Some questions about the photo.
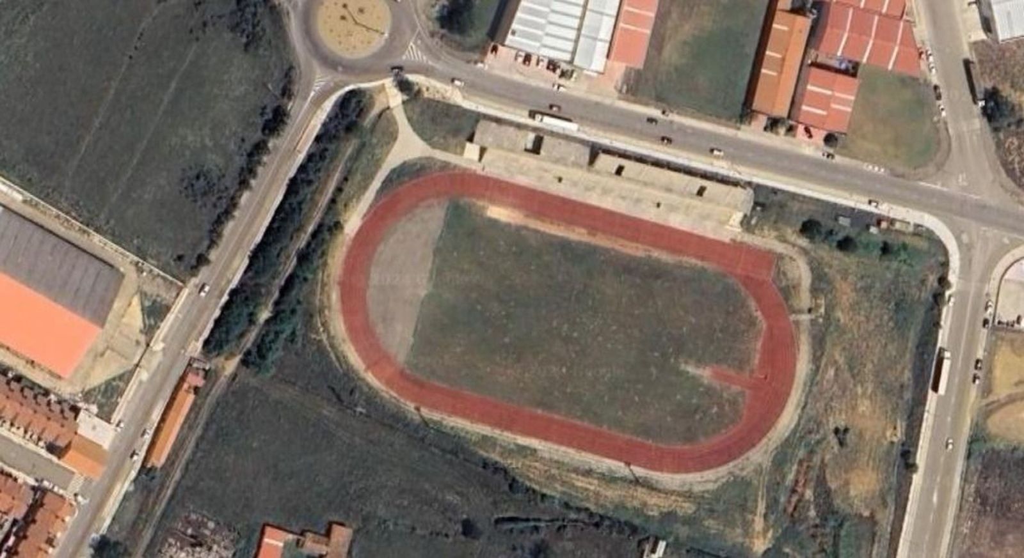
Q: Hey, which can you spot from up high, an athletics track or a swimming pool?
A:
athletics track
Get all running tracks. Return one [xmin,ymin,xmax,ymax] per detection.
[339,172,797,475]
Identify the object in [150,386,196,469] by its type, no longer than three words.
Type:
shed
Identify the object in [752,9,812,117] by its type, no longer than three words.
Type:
building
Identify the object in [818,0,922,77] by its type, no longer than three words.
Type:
building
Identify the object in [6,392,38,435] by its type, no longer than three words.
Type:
house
